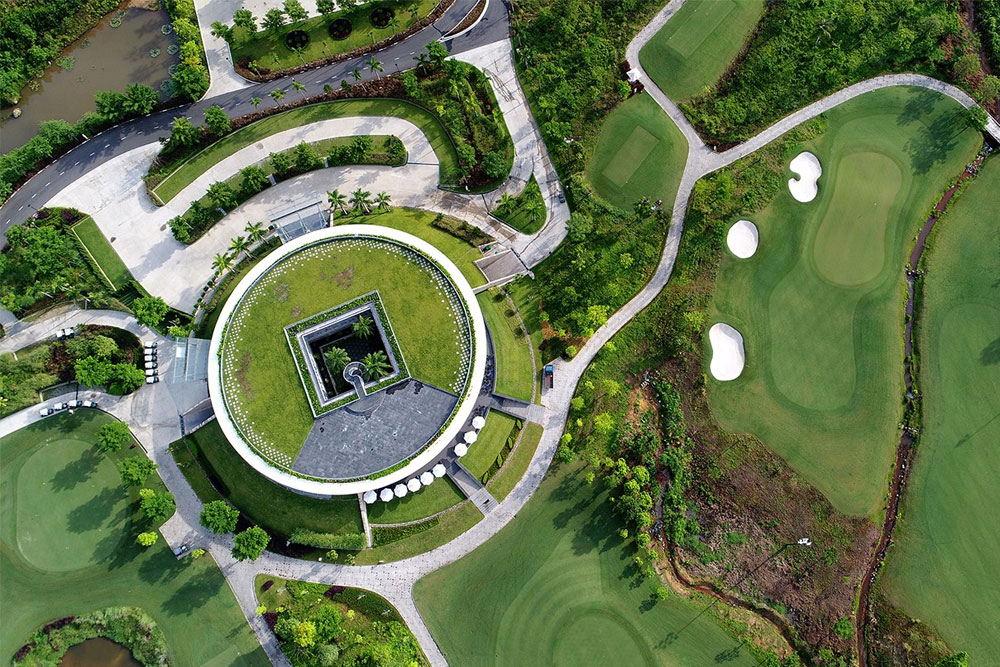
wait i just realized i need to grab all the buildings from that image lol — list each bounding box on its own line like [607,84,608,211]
[210,224,486,495]
[627,68,644,89]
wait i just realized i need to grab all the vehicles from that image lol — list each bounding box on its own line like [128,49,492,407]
[65,327,77,340]
[545,362,556,389]
[144,349,160,355]
[145,342,160,349]
[558,189,565,202]
[145,355,160,362]
[54,402,70,410]
[146,369,161,377]
[83,400,101,409]
[67,400,84,408]
[40,408,58,417]
[146,377,161,384]
[57,328,68,342]
[145,362,160,369]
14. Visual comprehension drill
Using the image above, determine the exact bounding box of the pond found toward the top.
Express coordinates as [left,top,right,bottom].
[0,11,180,169]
